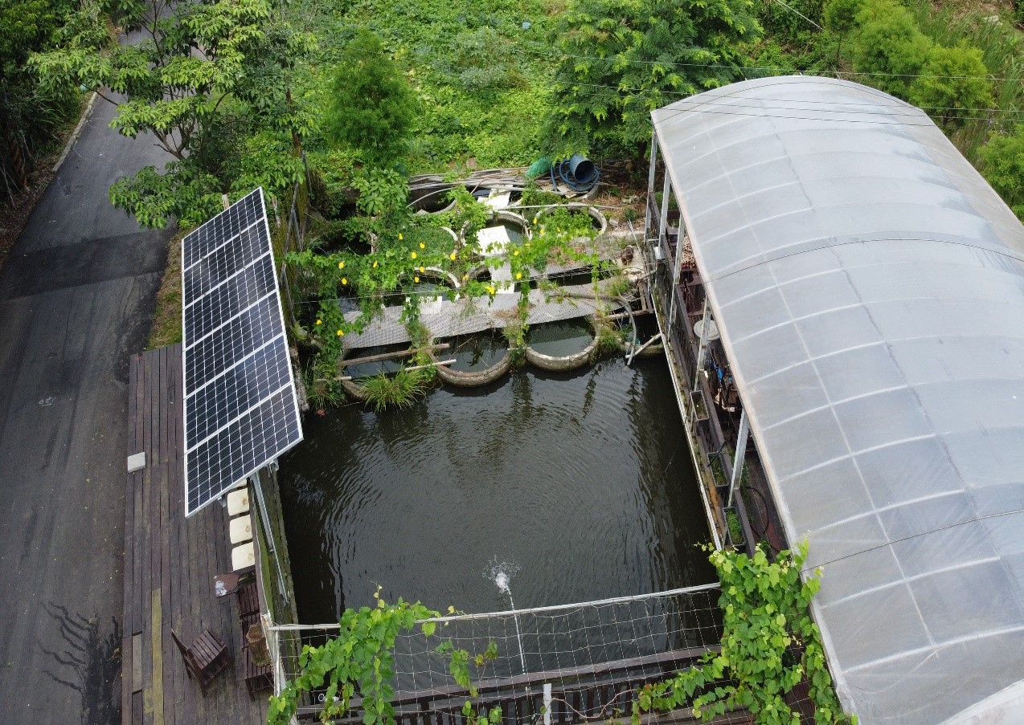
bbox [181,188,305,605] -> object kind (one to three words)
solar array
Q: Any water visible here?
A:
Yes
